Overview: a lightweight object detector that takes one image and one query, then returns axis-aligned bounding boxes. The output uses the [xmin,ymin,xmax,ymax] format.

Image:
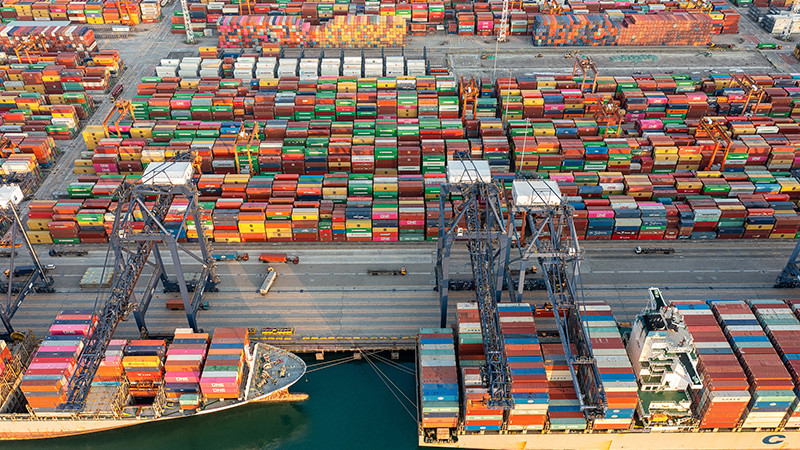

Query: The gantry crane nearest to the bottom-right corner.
[769,234,800,287]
